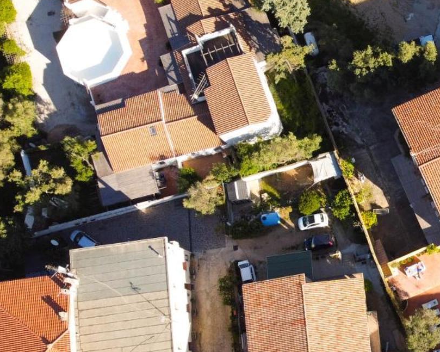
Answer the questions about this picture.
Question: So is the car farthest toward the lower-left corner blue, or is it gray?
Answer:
blue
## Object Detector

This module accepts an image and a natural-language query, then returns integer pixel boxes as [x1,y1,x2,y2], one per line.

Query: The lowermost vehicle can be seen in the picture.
[237,255,258,288]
